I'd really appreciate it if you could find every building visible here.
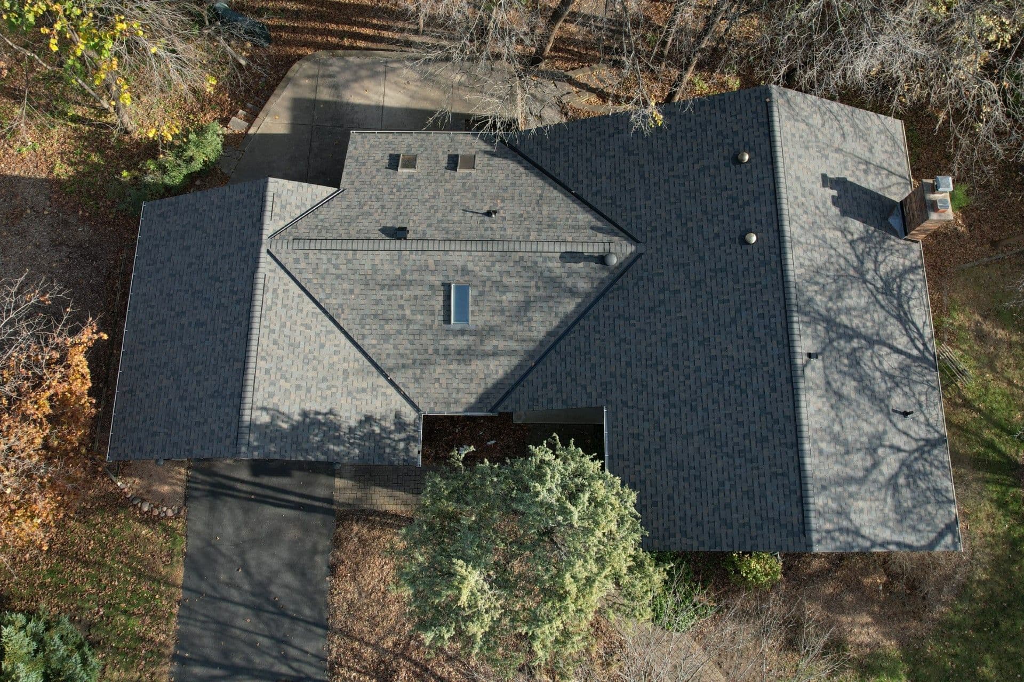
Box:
[105,83,966,559]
